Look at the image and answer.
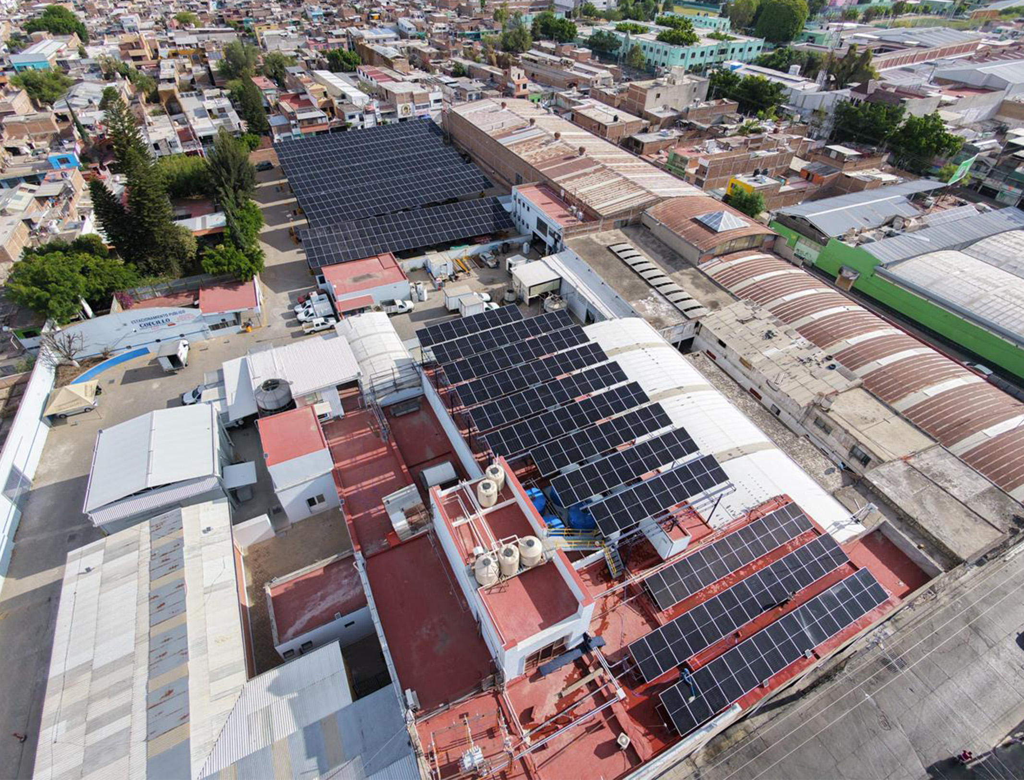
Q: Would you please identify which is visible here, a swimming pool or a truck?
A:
truck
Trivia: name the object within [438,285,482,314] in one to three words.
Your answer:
truck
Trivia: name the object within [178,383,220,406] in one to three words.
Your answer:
car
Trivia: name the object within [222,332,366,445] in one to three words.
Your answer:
shed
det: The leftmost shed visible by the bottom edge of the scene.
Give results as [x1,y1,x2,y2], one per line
[31,498,259,780]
